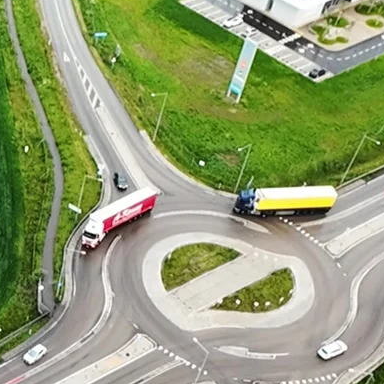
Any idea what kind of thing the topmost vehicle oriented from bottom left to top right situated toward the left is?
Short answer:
truck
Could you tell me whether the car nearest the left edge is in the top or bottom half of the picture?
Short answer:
bottom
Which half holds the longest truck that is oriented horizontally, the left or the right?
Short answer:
right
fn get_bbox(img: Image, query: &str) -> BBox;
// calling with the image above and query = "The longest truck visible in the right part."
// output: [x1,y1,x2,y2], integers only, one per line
[230,185,340,220]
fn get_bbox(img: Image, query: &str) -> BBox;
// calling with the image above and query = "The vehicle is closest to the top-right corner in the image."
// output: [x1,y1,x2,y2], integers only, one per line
[308,67,327,79]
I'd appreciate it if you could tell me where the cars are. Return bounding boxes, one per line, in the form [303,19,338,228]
[20,342,51,365]
[317,339,351,357]
[113,172,129,189]
[308,67,327,79]
[242,24,262,37]
[224,16,243,27]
